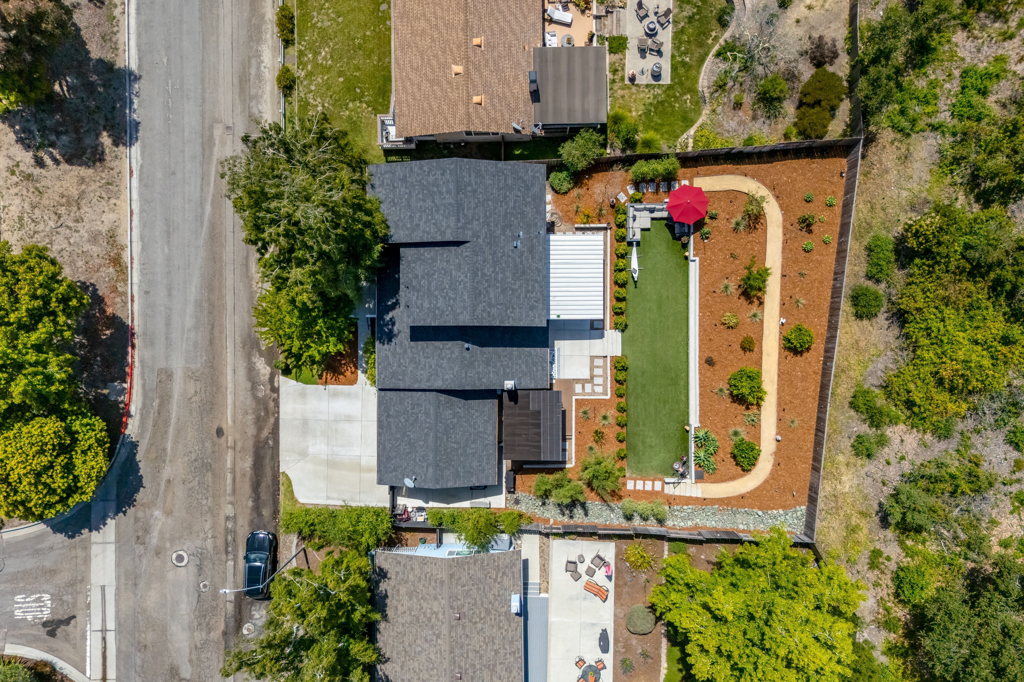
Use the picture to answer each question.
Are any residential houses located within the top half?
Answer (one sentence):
Yes, a residential house shows up within the top half.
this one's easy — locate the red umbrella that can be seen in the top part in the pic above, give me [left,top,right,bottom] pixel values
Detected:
[665,181,708,224]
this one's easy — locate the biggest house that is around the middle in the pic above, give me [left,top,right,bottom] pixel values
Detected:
[366,157,551,487]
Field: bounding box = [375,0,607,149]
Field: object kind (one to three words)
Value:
house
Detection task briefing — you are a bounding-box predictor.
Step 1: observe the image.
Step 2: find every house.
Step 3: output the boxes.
[375,0,607,149]
[366,157,551,487]
[373,539,523,682]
